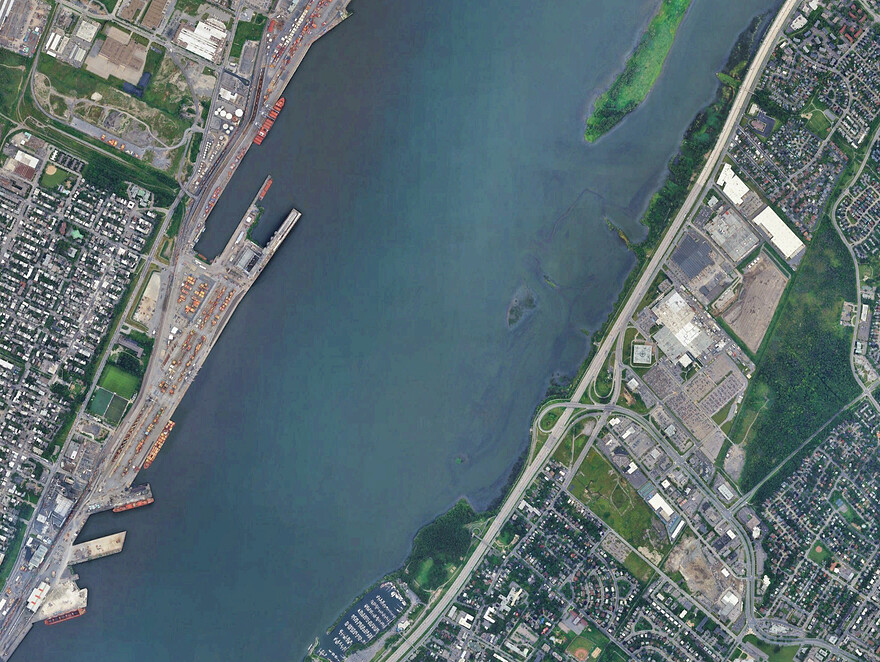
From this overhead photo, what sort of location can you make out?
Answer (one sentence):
The picture captures a port.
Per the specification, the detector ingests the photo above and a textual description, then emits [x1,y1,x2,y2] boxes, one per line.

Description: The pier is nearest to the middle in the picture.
[262,209,302,249]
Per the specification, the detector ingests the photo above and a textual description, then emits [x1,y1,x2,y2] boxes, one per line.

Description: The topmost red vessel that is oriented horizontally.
[113,499,154,512]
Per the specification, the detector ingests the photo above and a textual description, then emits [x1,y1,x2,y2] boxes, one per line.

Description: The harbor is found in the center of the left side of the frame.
[0,0,351,662]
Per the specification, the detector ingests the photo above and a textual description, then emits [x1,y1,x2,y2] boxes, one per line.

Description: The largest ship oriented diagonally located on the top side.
[254,97,285,144]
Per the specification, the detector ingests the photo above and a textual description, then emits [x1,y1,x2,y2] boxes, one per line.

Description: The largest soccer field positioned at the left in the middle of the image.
[98,362,142,401]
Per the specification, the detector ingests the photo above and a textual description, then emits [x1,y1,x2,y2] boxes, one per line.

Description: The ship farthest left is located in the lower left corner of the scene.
[45,608,88,624]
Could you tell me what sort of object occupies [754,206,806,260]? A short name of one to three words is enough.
building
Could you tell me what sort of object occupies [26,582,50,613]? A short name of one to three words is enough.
building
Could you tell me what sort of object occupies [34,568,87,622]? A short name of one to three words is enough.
pier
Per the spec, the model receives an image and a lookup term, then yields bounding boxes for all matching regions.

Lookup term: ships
[113,499,154,512]
[259,179,272,200]
[145,420,175,469]
[45,608,88,624]
[254,97,285,144]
